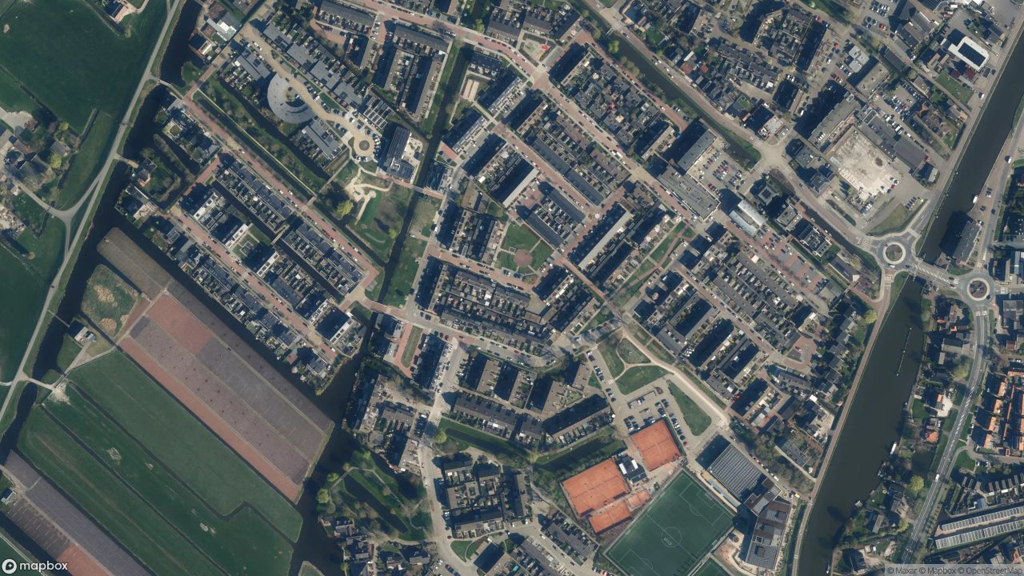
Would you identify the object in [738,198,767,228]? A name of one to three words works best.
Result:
building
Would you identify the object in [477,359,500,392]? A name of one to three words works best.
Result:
building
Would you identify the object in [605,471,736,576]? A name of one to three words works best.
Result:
soccer field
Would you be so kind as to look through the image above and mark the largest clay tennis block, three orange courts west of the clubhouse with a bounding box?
[561,458,629,517]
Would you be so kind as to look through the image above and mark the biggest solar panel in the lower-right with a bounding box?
[747,546,776,568]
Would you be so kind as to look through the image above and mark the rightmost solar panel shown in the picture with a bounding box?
[959,43,985,66]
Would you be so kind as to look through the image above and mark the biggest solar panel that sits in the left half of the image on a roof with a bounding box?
[390,128,409,157]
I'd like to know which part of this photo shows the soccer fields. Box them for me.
[605,471,736,576]
[692,557,731,576]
